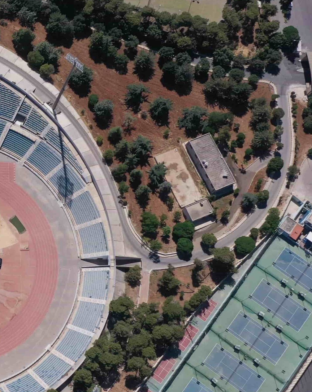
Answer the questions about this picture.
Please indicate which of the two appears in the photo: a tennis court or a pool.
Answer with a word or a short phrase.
tennis court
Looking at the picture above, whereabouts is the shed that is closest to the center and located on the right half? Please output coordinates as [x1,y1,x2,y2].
[182,199,213,222]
